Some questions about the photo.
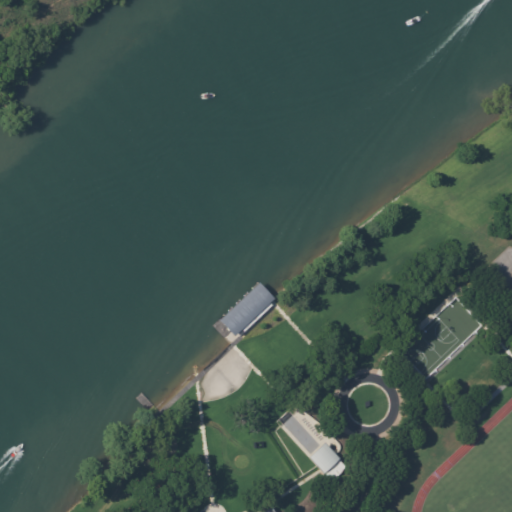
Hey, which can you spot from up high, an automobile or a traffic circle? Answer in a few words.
traffic circle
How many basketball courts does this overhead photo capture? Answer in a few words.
1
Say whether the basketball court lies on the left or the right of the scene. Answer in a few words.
right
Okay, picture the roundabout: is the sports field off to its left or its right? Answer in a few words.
right of it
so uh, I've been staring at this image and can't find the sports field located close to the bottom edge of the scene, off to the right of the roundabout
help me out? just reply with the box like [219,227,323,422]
[422,410,512,512]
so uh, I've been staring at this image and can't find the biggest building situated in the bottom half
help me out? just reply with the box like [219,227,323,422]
[214,282,276,343]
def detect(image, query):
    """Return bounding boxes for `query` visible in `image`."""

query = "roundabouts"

[340,373,399,432]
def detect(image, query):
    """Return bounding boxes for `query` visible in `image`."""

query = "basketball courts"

[402,298,481,378]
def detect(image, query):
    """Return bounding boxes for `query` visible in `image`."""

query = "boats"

[12,448,22,460]
[404,16,421,26]
[200,93,216,100]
